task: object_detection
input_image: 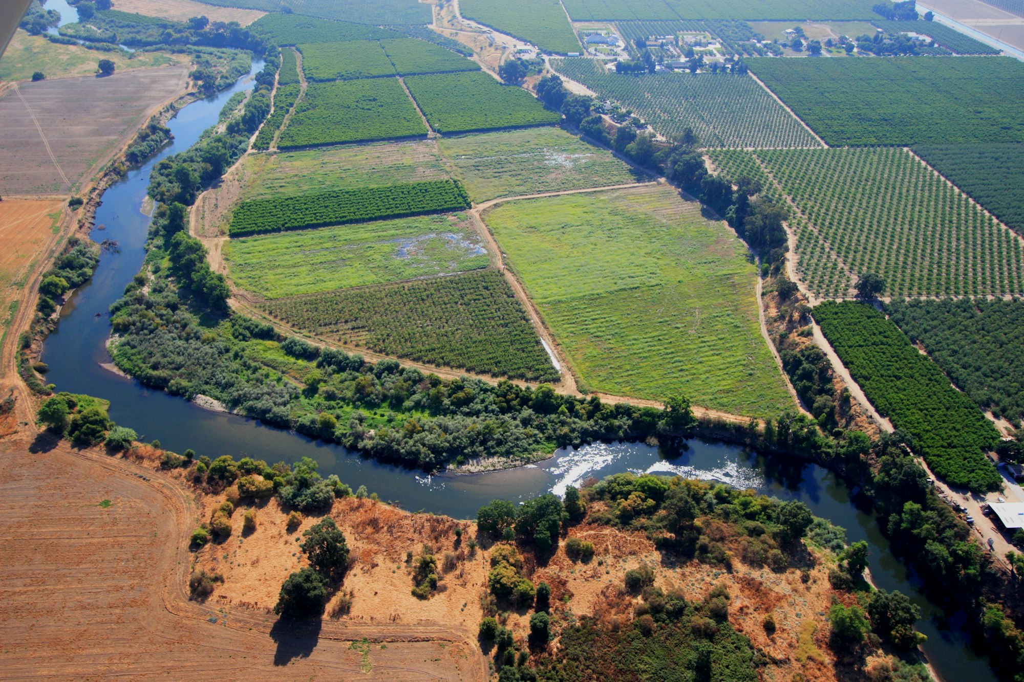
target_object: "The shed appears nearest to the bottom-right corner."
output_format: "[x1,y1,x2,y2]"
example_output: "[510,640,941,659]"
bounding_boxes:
[983,504,1024,536]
